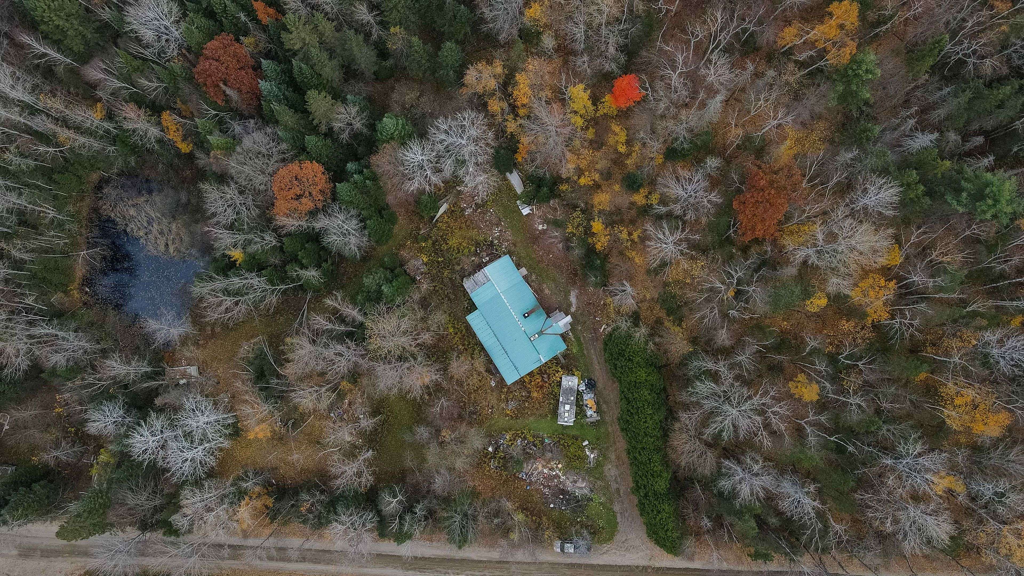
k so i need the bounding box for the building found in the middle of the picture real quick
[465,255,572,385]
